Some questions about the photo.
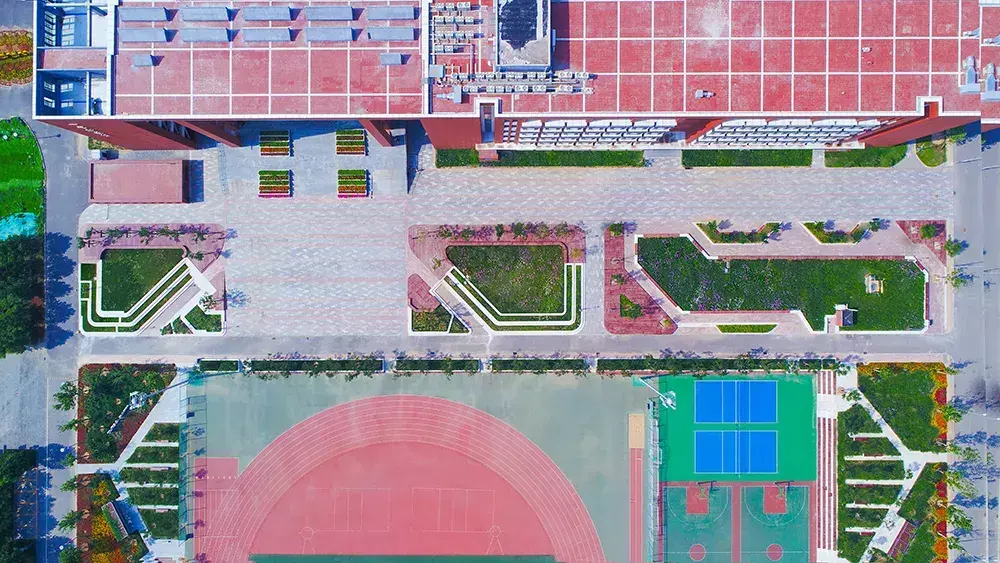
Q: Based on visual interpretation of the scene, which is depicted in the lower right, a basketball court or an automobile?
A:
basketball court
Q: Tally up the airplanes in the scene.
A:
0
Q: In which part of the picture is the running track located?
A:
bottom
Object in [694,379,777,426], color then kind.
blue sports court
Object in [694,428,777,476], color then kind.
blue sports court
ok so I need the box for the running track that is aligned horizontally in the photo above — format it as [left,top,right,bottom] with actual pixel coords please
[194,394,604,563]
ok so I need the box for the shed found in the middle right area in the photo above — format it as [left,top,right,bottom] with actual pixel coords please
[834,305,858,326]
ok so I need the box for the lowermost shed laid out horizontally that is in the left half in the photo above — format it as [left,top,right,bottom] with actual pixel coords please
[89,160,189,205]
